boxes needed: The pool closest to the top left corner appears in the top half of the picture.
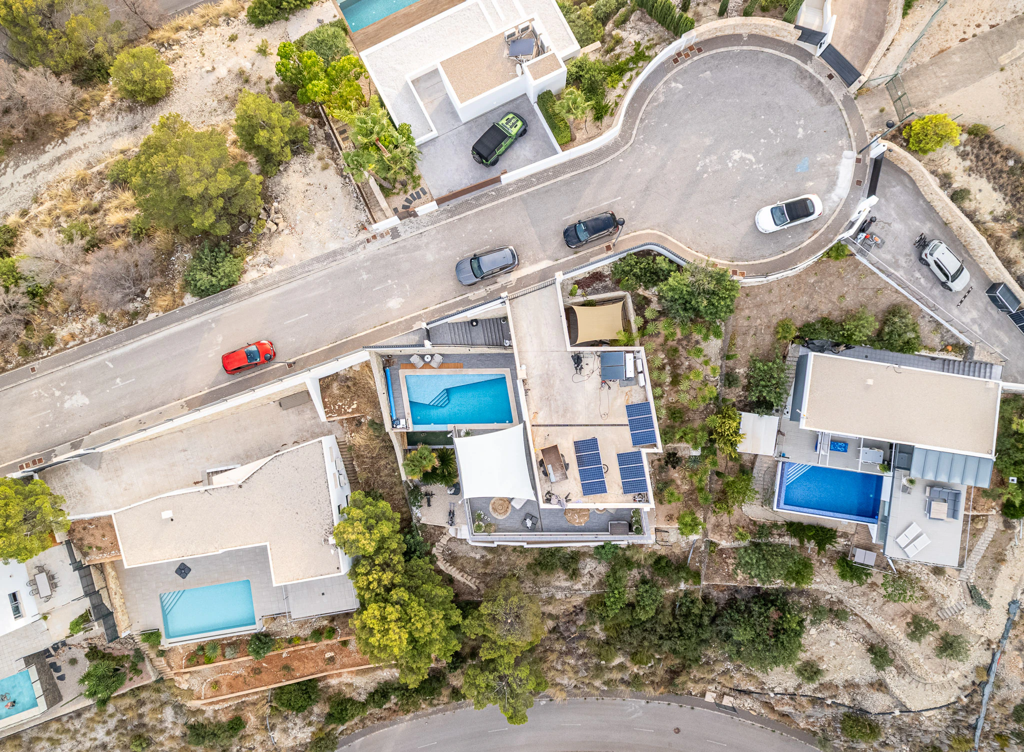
[340,0,416,31]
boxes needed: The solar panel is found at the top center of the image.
[509,38,534,63]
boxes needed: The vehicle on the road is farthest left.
[219,339,280,377]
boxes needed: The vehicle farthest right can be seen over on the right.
[913,236,969,296]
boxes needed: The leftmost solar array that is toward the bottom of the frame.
[573,437,607,496]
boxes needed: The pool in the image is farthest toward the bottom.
[0,664,44,719]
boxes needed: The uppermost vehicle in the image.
[470,108,529,170]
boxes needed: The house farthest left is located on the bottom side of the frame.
[0,559,38,632]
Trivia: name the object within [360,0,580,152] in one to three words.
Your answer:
house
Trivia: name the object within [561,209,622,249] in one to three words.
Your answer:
car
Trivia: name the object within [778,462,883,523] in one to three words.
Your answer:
swimming pool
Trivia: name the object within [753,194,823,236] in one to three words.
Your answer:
car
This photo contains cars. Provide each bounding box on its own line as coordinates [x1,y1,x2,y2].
[470,108,529,170]
[455,243,521,286]
[913,236,969,296]
[561,209,622,249]
[753,194,823,236]
[219,339,280,377]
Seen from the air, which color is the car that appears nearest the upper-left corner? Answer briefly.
red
